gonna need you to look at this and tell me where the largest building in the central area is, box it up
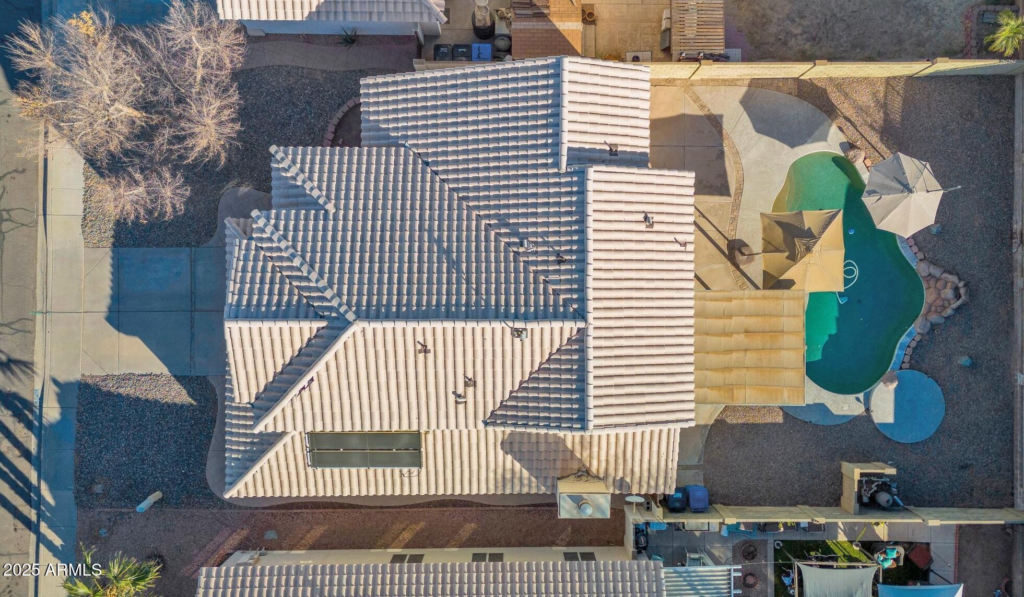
[223,56,697,520]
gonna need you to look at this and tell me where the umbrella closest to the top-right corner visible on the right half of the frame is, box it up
[861,153,963,238]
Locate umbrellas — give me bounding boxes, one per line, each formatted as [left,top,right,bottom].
[861,153,963,238]
[729,210,844,292]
